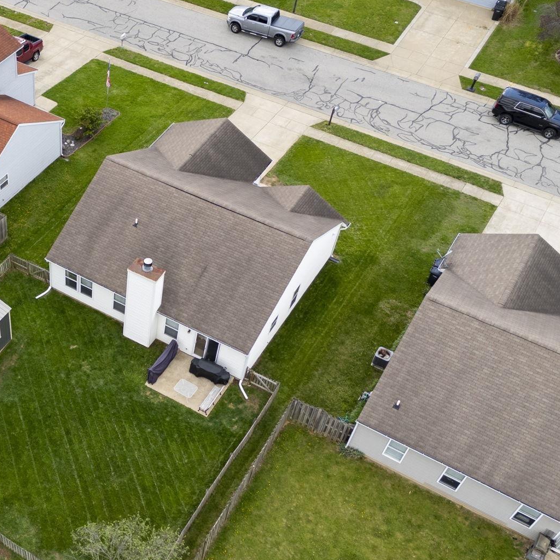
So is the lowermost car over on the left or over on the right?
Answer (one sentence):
You can find the lowermost car on the right side of the picture.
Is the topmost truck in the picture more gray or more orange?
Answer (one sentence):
The topmost truck is gray.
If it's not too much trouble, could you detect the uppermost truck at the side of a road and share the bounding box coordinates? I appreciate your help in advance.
[226,3,307,46]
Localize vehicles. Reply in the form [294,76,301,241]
[12,30,43,65]
[226,3,307,46]
[489,87,560,141]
